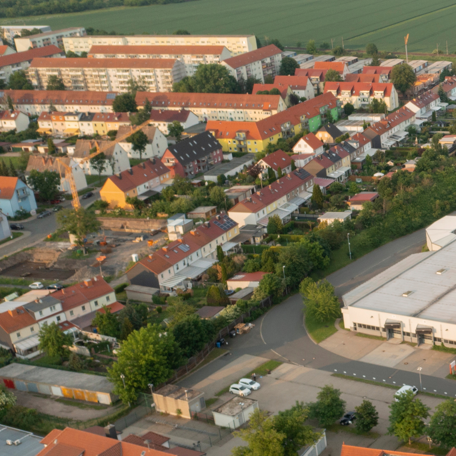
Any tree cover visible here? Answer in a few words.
Yes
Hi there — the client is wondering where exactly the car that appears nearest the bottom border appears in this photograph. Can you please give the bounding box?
[340,409,354,421]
